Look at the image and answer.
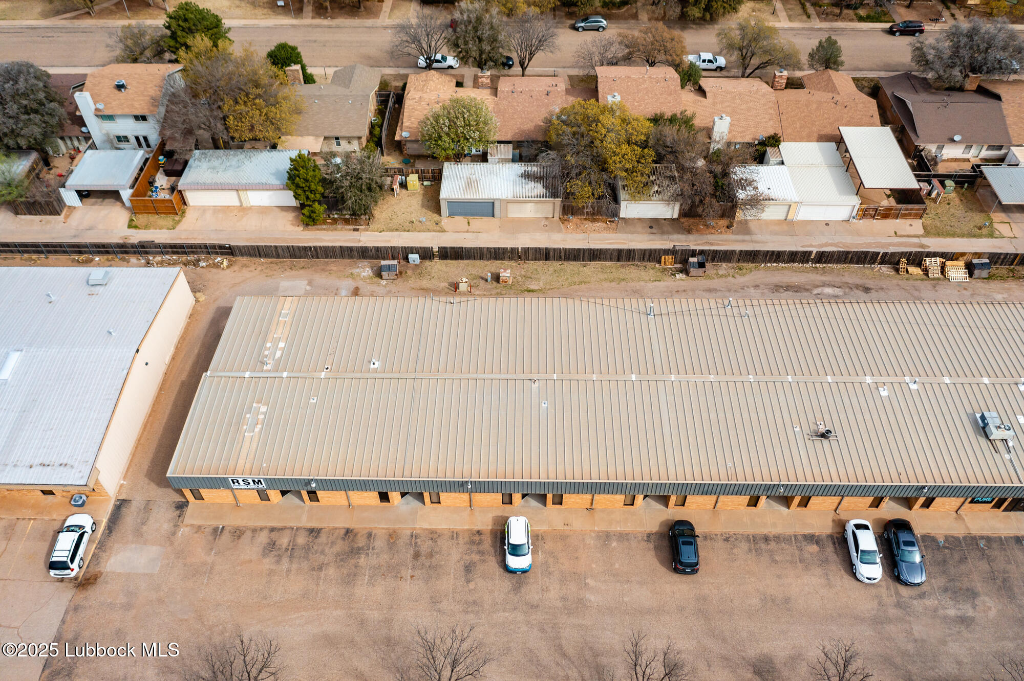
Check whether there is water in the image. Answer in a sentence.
No, no water is visible.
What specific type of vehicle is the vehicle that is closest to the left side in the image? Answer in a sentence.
In the photo, the vehicle that is closest to the left side shows up as an automobile.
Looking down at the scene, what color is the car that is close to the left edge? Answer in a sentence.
The car that is close to the left edge looks white in the image.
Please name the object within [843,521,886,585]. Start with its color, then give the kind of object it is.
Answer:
white car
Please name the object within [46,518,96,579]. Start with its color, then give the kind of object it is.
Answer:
white car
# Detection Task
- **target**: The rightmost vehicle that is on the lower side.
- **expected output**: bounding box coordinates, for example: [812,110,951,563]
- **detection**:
[886,522,932,587]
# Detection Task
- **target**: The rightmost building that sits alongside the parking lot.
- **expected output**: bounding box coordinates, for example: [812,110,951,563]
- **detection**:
[165,293,1024,513]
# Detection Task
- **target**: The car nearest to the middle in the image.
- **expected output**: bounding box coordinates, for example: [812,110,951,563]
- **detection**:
[504,515,533,573]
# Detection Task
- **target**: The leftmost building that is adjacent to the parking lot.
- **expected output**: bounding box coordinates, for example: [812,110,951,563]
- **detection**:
[0,268,193,492]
